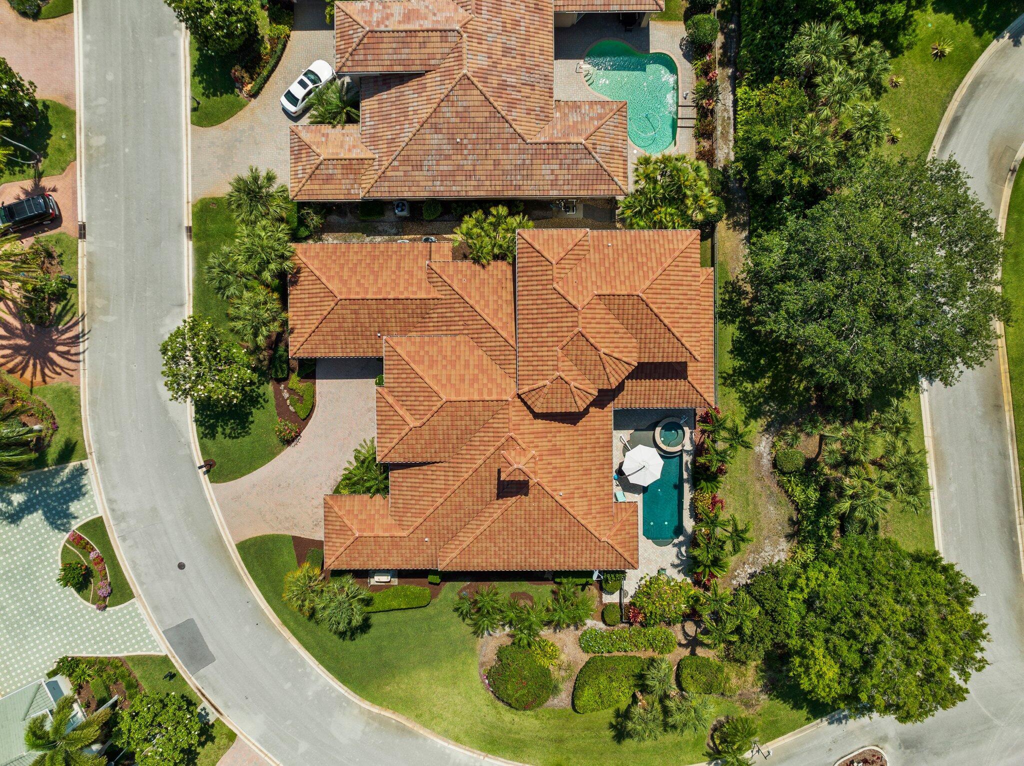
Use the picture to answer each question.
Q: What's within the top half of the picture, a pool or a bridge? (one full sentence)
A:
Visible within the top half of the picture is a pool.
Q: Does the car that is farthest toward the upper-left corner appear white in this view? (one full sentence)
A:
No, the car that is farthest toward the upper-left corner is actually black.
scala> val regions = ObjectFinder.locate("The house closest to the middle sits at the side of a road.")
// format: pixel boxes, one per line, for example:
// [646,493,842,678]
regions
[287,227,716,572]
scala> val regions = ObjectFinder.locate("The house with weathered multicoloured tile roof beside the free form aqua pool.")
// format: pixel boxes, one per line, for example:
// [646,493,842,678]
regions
[288,0,666,205]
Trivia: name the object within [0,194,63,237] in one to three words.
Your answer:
car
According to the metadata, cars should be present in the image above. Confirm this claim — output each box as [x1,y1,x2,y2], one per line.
[280,58,335,115]
[0,194,63,237]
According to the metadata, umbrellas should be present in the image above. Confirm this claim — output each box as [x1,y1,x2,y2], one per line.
[614,444,663,486]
